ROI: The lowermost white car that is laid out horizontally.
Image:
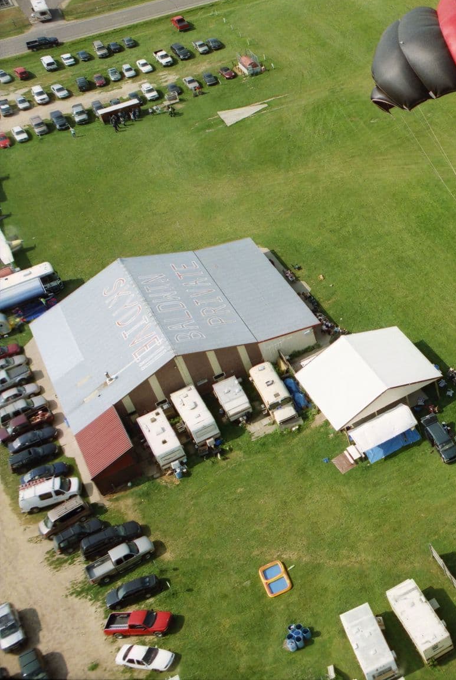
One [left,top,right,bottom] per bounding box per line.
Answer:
[111,643,181,675]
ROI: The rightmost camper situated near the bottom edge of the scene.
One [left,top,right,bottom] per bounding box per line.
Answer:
[387,580,453,666]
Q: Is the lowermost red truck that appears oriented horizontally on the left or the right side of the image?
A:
left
